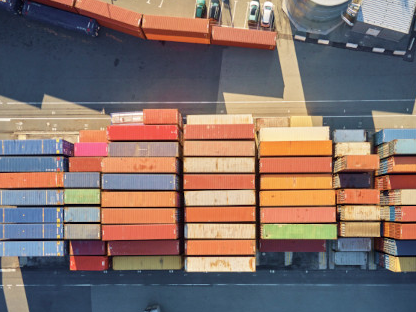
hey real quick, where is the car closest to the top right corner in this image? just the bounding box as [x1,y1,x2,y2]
[261,2,274,28]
